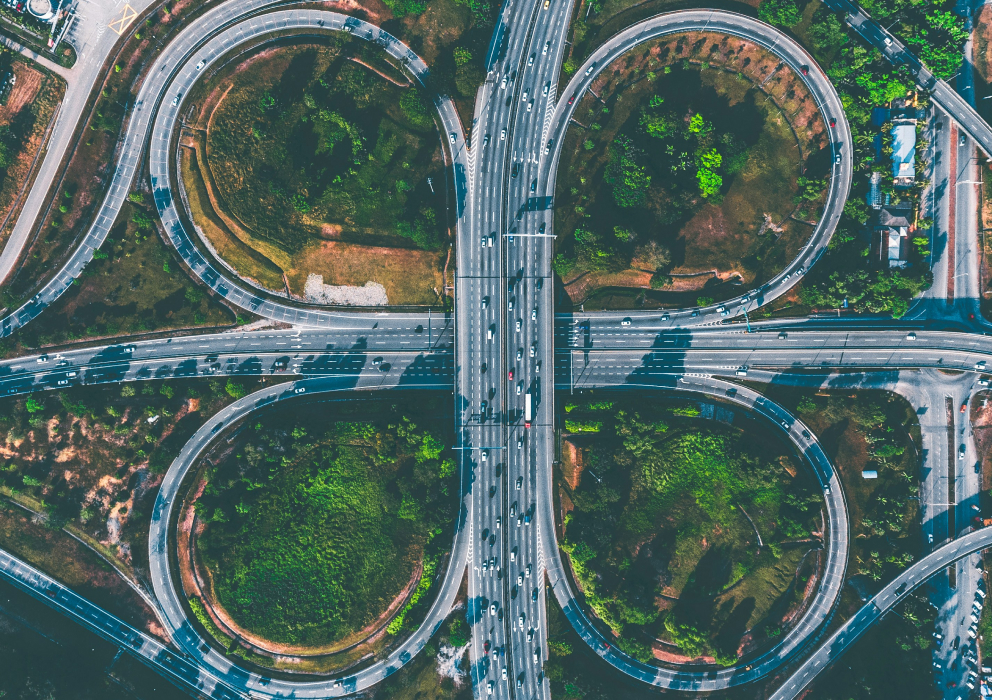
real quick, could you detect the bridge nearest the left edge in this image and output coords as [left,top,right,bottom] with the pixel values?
[455,0,574,700]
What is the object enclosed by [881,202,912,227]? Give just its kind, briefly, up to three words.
building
